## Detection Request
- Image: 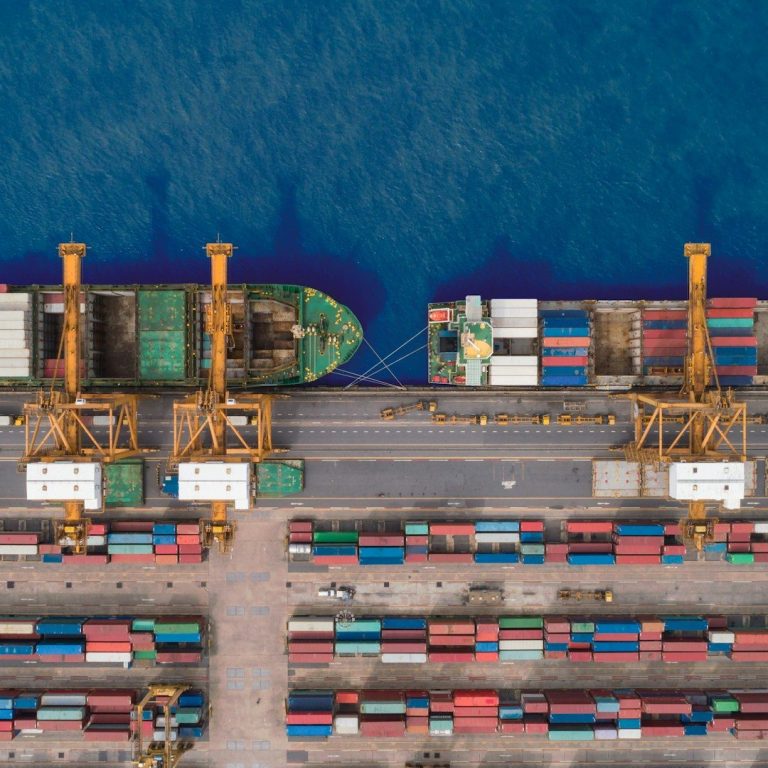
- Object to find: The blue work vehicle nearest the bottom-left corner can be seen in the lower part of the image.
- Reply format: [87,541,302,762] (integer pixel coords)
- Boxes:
[162,475,182,496]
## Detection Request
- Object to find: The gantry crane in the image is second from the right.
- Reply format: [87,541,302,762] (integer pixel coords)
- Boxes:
[166,230,290,552]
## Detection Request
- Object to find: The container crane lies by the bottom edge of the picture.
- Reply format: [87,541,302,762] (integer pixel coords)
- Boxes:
[128,684,195,768]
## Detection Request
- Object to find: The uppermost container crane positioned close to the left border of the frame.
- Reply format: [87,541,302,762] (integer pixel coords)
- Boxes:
[16,230,160,552]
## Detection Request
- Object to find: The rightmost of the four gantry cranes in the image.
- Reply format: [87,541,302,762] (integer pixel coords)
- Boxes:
[608,244,748,552]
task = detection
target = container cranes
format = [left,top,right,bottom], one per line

[166,230,290,552]
[128,684,195,768]
[608,244,748,552]
[16,230,160,552]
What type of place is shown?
port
